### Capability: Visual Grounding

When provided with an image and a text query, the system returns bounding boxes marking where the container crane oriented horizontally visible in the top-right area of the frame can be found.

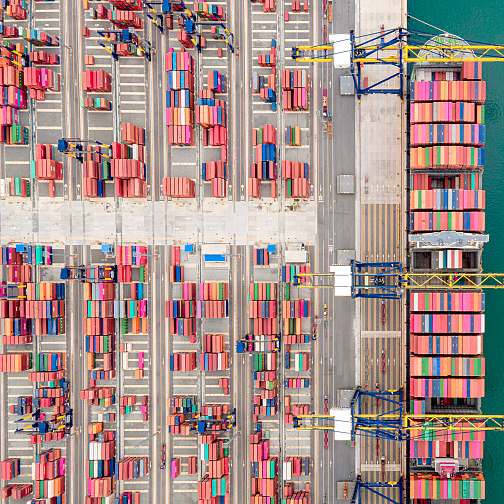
[291,23,504,102]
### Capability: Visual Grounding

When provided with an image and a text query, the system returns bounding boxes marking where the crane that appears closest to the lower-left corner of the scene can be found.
[13,407,72,433]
